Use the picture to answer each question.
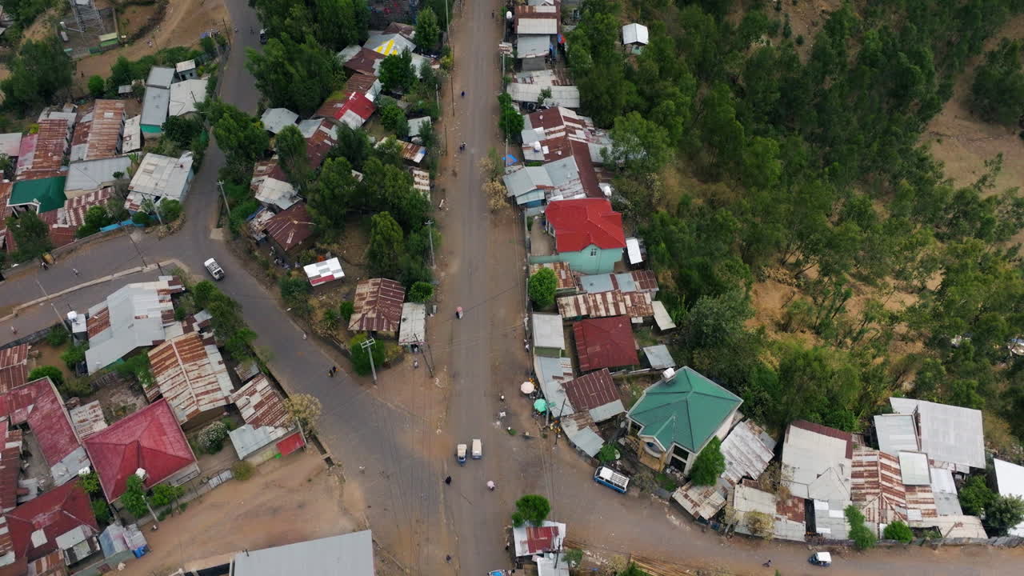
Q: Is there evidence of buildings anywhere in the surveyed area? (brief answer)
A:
Yes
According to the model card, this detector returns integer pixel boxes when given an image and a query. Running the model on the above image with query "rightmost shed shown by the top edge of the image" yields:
[623,23,648,54]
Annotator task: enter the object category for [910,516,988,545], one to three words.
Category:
shed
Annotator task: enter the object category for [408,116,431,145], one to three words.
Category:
shed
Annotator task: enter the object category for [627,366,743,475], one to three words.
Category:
house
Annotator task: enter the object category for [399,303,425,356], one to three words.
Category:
building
